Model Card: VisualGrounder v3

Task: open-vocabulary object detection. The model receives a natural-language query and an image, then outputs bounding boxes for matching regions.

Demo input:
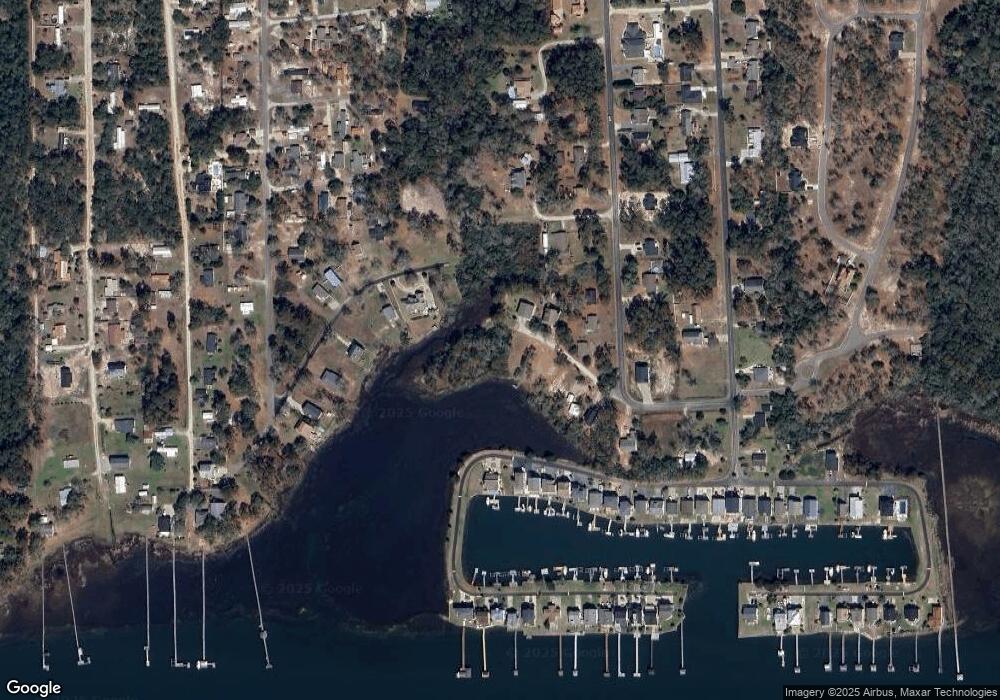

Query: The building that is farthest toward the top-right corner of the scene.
[889,32,904,56]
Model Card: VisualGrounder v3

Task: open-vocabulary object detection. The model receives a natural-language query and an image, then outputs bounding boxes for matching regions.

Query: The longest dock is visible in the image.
[937,405,964,680]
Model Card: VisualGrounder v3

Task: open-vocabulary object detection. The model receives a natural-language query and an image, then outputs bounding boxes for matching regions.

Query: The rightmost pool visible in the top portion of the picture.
[648,38,664,62]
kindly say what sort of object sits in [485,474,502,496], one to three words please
house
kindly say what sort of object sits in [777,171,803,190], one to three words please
house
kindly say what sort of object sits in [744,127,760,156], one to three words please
building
